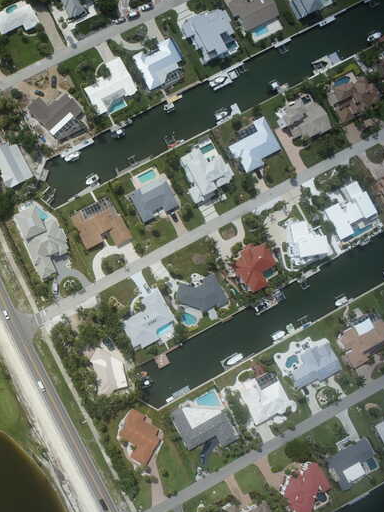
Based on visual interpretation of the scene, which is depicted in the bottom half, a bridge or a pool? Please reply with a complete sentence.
You can see a pool in the bottom half.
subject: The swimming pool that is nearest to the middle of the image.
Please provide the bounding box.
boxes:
[177,306,203,328]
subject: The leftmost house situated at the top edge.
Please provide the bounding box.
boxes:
[0,2,39,35]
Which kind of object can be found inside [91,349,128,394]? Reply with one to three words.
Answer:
house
